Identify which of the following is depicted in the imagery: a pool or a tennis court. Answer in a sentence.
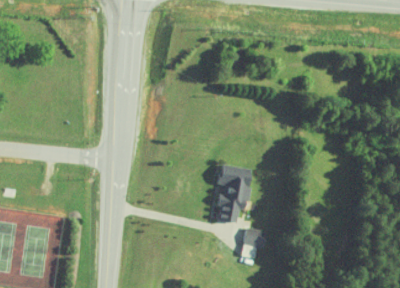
There is a tennis court in the scene.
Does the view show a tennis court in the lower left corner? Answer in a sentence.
Yes, looking in the lower left corner, one can make out a tennis court.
